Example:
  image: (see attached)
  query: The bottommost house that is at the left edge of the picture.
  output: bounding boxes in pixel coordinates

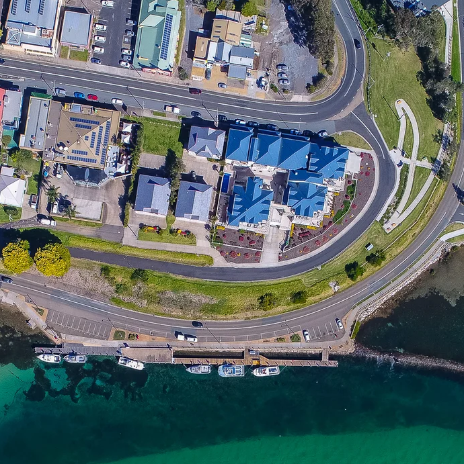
[0,167,27,208]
